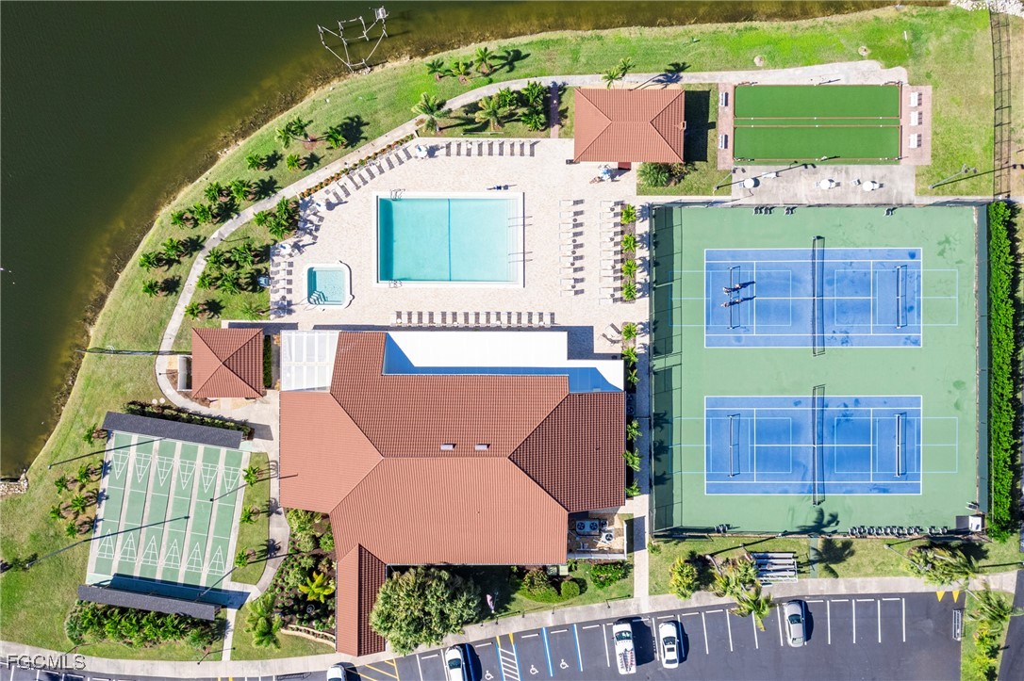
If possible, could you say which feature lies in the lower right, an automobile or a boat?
automobile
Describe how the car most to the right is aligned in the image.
up and down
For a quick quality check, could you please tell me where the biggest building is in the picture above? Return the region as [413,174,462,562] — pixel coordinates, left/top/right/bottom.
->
[279,330,626,657]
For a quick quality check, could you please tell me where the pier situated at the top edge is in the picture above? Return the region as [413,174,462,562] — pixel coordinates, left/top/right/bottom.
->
[318,6,389,77]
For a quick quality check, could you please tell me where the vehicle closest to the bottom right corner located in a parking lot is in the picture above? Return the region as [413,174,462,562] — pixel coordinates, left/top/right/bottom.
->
[782,599,806,648]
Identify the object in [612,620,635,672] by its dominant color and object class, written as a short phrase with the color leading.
white car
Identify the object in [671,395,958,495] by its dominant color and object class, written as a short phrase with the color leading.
blue tennis court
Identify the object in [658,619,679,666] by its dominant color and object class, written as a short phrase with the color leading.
white car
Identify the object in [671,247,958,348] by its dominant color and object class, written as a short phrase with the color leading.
blue tennis court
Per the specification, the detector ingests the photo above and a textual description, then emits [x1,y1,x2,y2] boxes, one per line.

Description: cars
[782,599,806,648]
[658,619,679,666]
[446,646,468,681]
[612,620,635,672]
[329,664,348,681]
